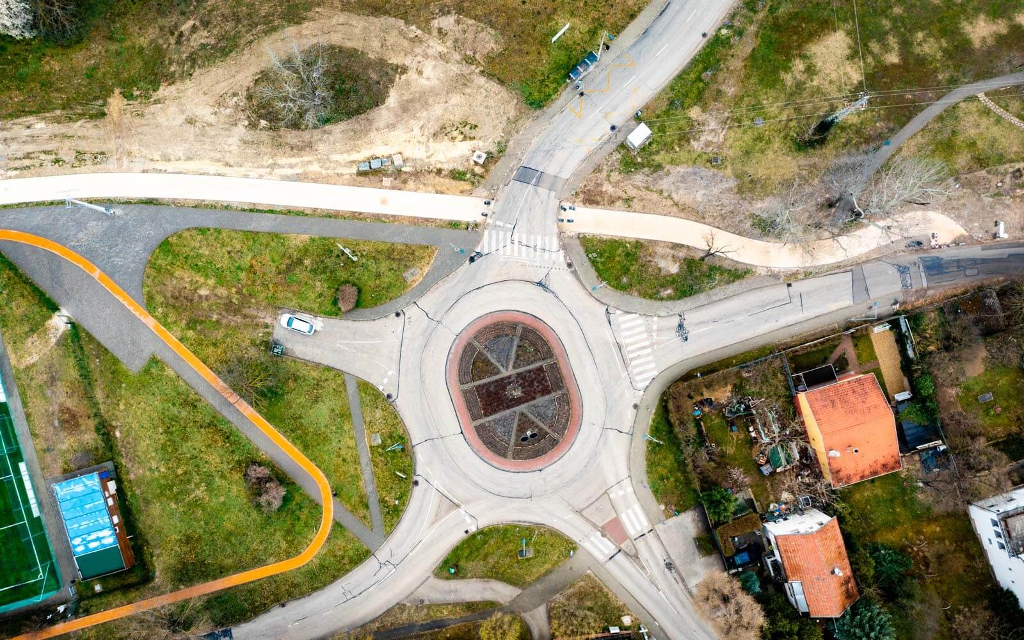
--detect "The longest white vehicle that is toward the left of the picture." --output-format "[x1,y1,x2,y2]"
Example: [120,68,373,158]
[279,314,315,334]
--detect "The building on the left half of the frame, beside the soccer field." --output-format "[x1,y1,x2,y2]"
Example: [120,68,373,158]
[53,470,137,582]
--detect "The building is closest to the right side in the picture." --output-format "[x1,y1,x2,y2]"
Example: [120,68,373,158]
[964,484,1024,633]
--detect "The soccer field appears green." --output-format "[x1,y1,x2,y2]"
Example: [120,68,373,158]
[0,402,56,609]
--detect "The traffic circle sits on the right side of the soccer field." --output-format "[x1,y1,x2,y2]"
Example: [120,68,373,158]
[263,185,819,635]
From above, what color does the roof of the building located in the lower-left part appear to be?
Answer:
blue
